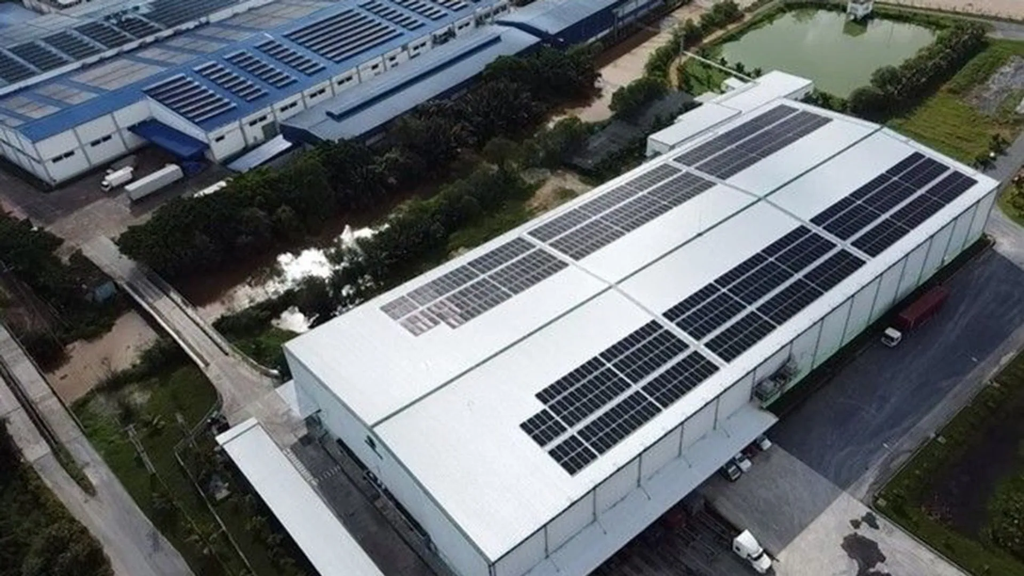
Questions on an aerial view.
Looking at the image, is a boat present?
No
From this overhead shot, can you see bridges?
Yes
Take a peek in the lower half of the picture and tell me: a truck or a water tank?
truck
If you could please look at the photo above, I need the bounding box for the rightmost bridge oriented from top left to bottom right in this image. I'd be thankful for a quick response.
[90,235,279,374]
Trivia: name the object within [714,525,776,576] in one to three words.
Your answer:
truck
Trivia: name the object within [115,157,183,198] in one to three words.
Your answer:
trailer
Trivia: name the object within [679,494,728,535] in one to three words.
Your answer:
trailer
